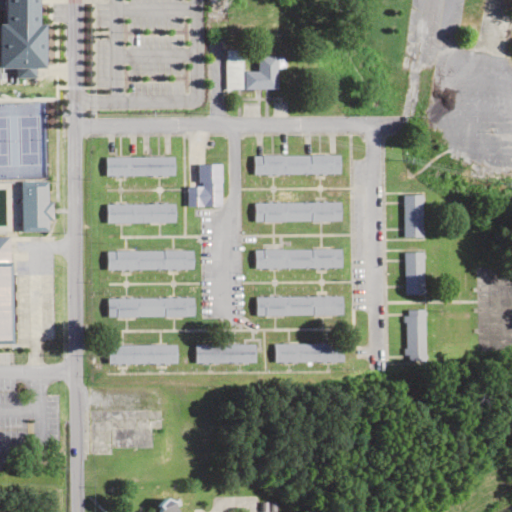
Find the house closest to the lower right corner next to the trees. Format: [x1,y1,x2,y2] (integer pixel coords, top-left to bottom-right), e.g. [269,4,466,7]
[404,310,428,362]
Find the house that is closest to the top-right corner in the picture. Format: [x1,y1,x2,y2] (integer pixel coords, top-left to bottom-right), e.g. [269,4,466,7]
[404,194,425,238]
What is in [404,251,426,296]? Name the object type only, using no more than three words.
house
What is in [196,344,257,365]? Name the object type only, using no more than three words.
building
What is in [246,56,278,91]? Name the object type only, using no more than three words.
house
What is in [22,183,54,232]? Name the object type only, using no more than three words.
building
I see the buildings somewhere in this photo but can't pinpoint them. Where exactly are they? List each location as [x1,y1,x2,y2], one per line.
[109,344,179,365]
[255,154,342,176]
[255,248,344,270]
[188,164,224,208]
[1,0,48,77]
[0,260,14,344]
[108,297,196,319]
[196,344,257,365]
[22,183,54,232]
[226,50,245,91]
[404,194,425,238]
[159,500,182,512]
[108,250,194,272]
[404,251,426,296]
[255,202,343,224]
[404,310,428,362]
[107,202,178,224]
[246,56,278,91]
[257,296,345,318]
[275,343,346,364]
[106,156,176,178]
